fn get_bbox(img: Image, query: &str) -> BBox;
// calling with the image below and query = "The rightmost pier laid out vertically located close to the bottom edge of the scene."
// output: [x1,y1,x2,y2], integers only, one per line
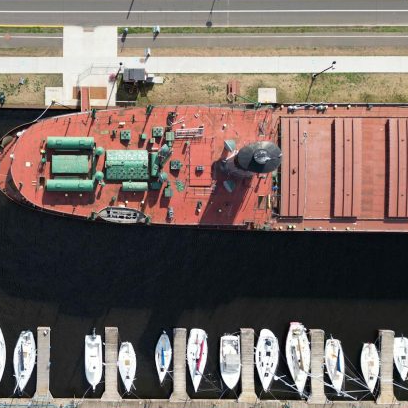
[374,328,399,397]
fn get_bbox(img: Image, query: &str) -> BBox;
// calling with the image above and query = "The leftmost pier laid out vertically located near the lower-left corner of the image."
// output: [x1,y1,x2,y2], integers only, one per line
[33,326,56,397]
